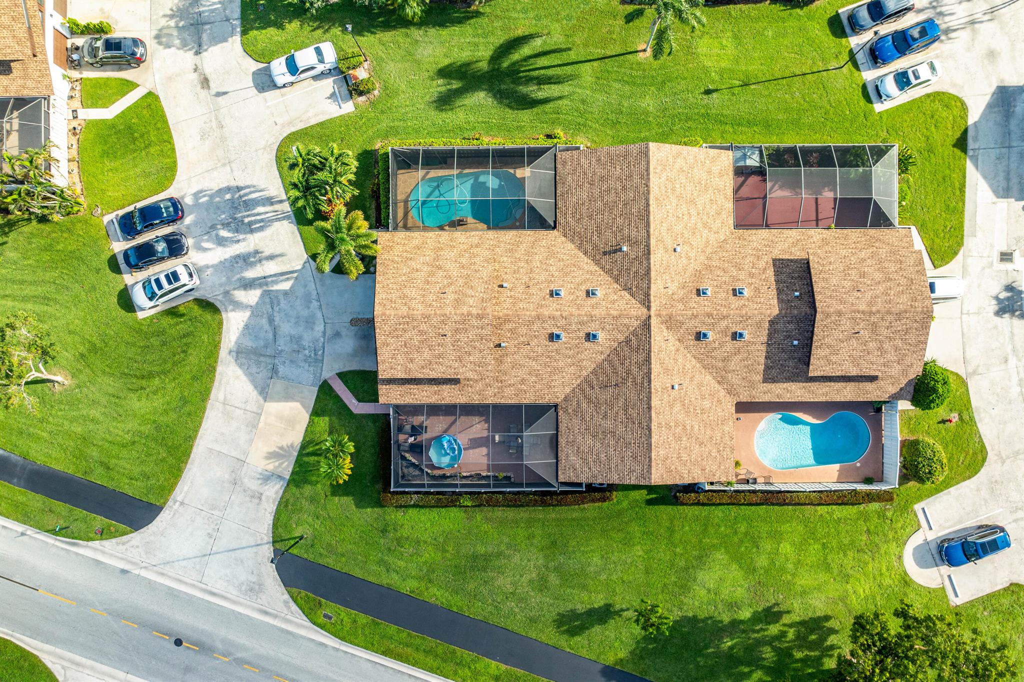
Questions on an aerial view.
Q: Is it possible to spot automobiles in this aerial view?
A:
Yes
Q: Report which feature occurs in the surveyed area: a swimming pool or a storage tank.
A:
swimming pool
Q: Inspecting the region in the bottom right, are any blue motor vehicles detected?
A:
Yes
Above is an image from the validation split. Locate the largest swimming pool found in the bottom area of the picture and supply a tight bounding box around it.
[754,410,872,472]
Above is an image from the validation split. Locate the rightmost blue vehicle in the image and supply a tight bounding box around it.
[935,523,1012,565]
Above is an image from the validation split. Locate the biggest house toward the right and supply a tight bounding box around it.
[373,140,934,489]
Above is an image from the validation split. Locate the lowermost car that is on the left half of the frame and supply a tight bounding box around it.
[132,266,204,306]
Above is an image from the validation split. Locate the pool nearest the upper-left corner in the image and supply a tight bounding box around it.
[408,168,526,227]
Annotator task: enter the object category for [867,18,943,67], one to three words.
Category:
car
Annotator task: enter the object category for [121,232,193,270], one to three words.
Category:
car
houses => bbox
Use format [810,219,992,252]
[373,140,934,489]
[0,0,71,107]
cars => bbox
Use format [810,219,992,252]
[132,266,204,306]
[269,42,339,88]
[121,198,188,237]
[926,276,966,303]
[935,523,1012,565]
[867,18,943,67]
[844,0,917,37]
[81,34,151,69]
[872,59,944,102]
[121,232,193,270]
